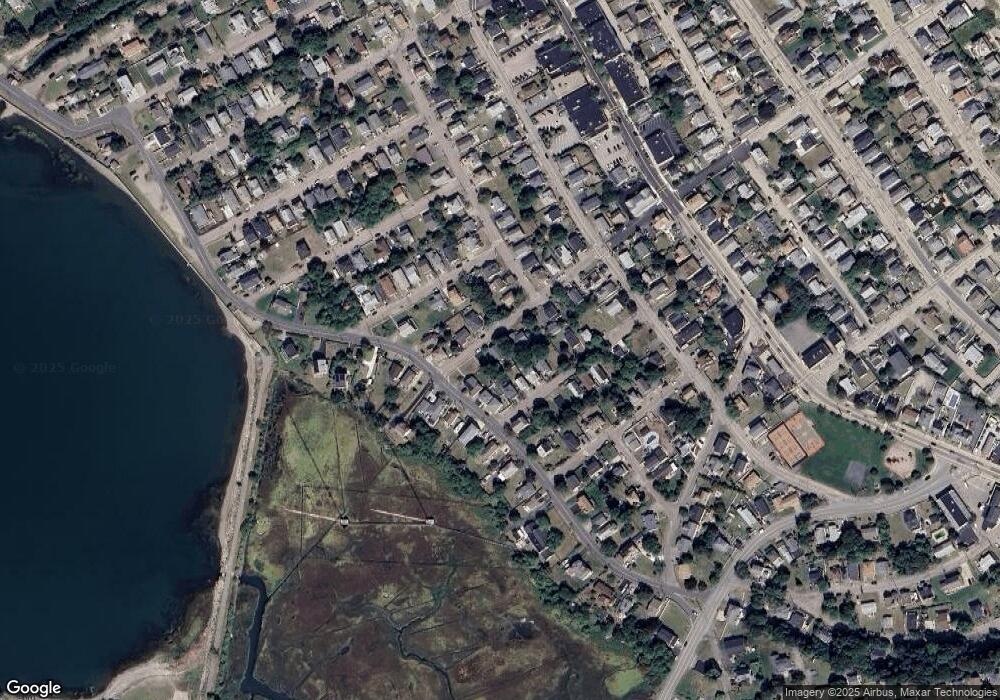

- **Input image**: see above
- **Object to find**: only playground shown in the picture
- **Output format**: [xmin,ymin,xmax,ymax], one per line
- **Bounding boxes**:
[885,444,917,476]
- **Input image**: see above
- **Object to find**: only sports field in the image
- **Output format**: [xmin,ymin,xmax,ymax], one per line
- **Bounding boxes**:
[793,402,936,499]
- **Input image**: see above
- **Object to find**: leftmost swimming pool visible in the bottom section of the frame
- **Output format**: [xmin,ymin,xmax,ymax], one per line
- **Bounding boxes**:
[644,431,661,446]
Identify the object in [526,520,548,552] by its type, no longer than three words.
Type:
house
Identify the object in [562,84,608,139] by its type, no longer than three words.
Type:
building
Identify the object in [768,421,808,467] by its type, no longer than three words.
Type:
tennis court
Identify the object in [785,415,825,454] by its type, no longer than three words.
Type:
sports court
